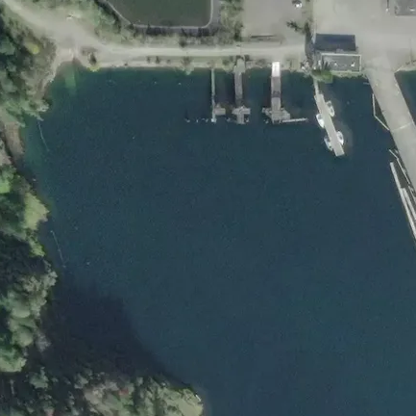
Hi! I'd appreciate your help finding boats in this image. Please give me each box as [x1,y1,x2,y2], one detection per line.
[325,136,335,151]
[336,132,345,145]
[327,101,336,117]
[316,114,326,129]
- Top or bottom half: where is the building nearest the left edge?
top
